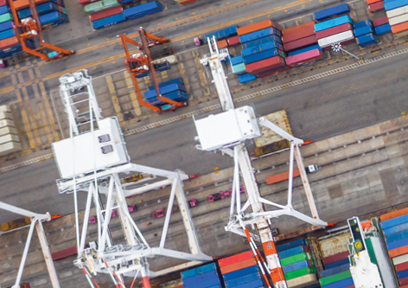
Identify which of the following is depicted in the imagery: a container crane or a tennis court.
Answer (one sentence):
The one in the frame is a container crane.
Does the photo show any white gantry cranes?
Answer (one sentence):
Yes, there's a white gantry crane here.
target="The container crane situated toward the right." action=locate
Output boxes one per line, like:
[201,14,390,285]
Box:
[192,33,342,288]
